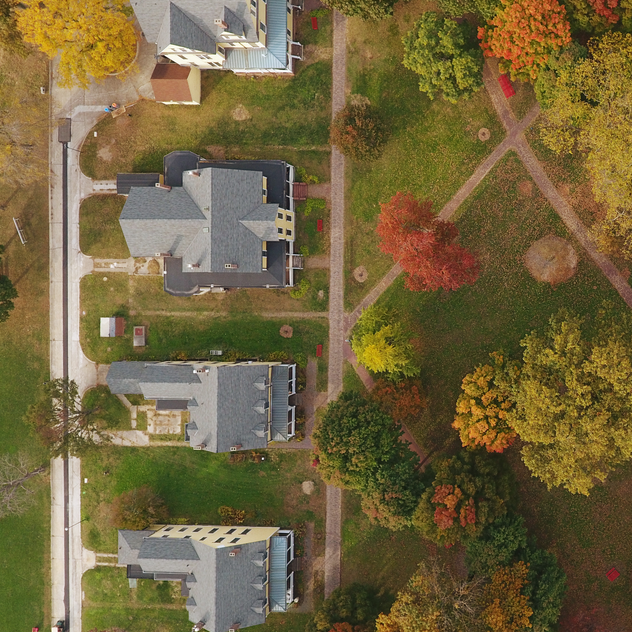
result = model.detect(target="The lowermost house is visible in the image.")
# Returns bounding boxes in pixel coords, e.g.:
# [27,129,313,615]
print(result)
[118,525,301,632]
